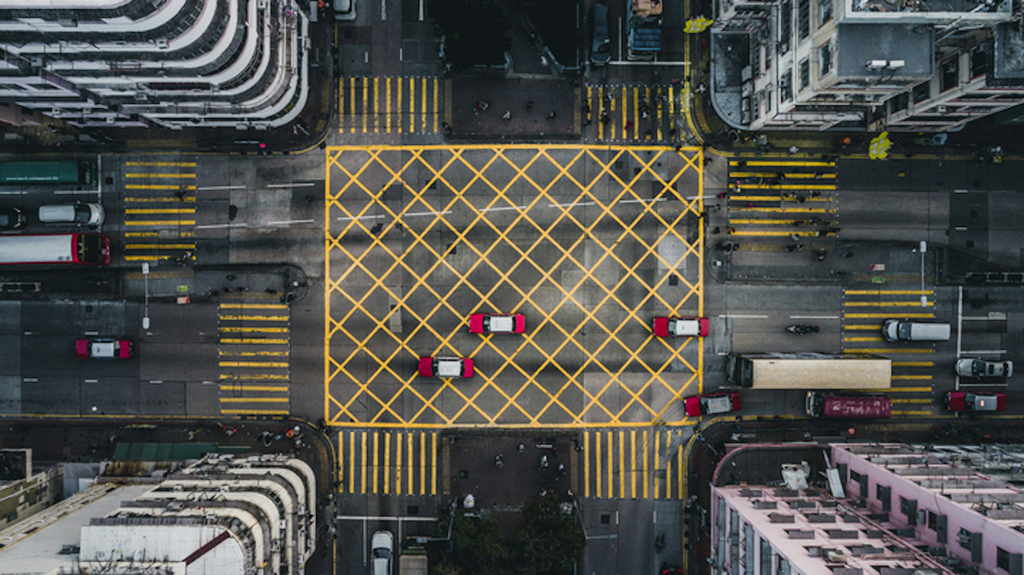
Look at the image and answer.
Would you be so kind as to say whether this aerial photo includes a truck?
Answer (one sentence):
Yes, you can see a truck in this photo.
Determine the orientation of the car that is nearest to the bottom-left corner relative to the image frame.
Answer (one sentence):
The car that is nearest to the bottom-left corner is oriented from left to right.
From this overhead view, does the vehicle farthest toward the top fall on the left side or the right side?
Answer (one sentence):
You can find the vehicle farthest toward the top on the left side of the picture.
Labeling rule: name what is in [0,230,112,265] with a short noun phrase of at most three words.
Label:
bus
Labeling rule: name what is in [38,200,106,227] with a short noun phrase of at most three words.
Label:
vehicle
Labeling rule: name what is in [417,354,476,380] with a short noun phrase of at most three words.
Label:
car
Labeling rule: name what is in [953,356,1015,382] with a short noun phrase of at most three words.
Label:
car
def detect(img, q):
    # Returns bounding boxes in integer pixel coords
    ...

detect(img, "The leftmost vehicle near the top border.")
[331,0,358,22]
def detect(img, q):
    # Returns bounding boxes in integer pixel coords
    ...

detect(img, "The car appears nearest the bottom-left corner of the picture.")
[77,337,137,363]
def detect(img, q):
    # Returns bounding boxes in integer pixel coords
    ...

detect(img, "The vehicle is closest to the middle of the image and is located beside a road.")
[468,311,527,337]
